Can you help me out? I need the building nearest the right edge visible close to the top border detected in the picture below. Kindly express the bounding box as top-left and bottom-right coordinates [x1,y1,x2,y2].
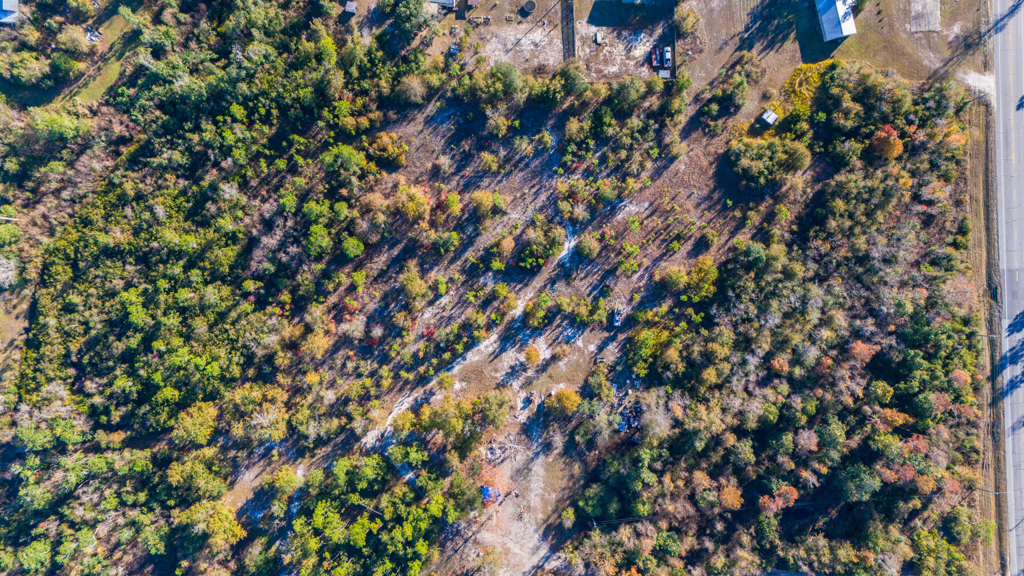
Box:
[811,0,857,44]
